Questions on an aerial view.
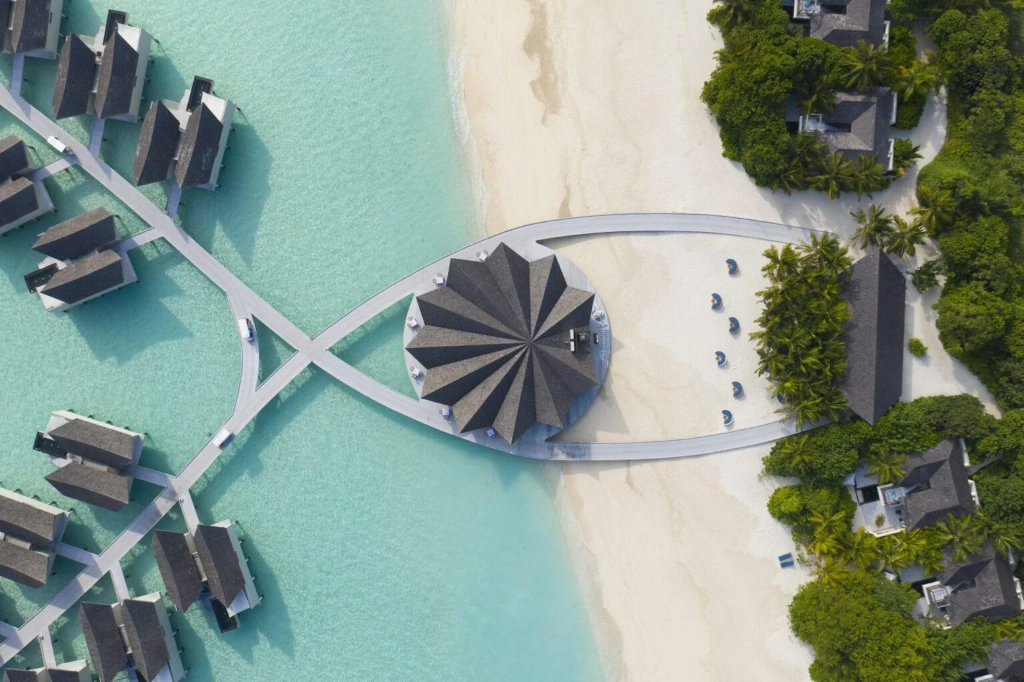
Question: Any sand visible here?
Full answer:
Yes, sand shows up in the scene.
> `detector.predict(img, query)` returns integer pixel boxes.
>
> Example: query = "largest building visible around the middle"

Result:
[401,225,612,459]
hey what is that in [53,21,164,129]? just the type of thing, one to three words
house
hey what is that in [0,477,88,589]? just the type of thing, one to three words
house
